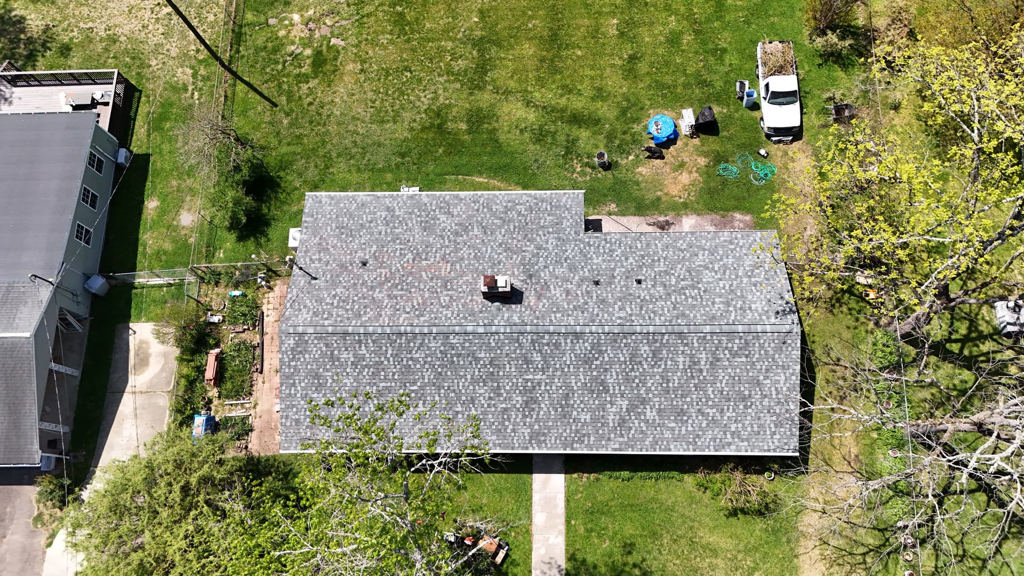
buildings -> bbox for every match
[277,192,802,456]
[0,111,117,466]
